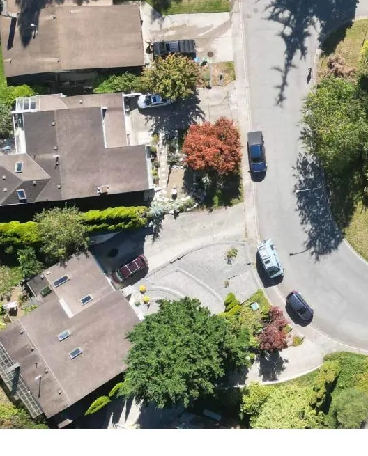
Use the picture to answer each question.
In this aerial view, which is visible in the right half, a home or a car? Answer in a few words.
car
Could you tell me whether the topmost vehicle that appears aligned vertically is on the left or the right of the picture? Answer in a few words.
right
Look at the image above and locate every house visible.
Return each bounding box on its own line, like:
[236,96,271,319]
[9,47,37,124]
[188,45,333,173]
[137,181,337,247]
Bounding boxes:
[0,0,151,77]
[0,250,150,418]
[0,91,157,206]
